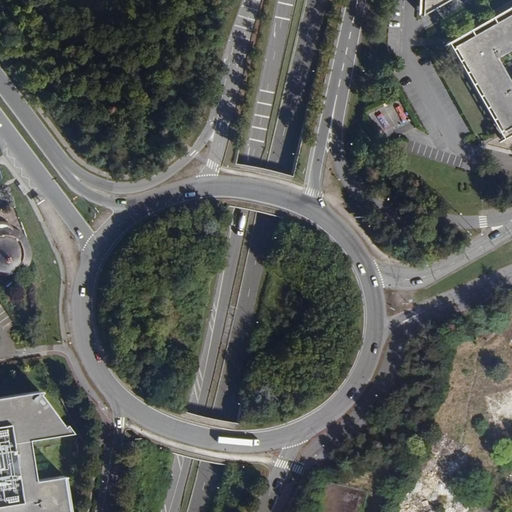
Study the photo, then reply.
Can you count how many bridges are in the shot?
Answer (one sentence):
The count of bridges comes to 2.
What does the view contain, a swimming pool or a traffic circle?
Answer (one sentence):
Looking from above, you can make out a traffic circle.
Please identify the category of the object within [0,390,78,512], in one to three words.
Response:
building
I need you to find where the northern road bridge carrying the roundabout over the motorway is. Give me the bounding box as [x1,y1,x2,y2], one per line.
[212,164,301,218]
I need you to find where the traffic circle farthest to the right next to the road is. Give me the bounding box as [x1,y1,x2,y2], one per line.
[72,174,388,452]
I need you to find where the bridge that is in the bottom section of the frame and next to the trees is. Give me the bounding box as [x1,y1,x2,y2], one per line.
[130,412,275,466]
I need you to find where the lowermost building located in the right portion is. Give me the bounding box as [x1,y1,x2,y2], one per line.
[449,8,512,140]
